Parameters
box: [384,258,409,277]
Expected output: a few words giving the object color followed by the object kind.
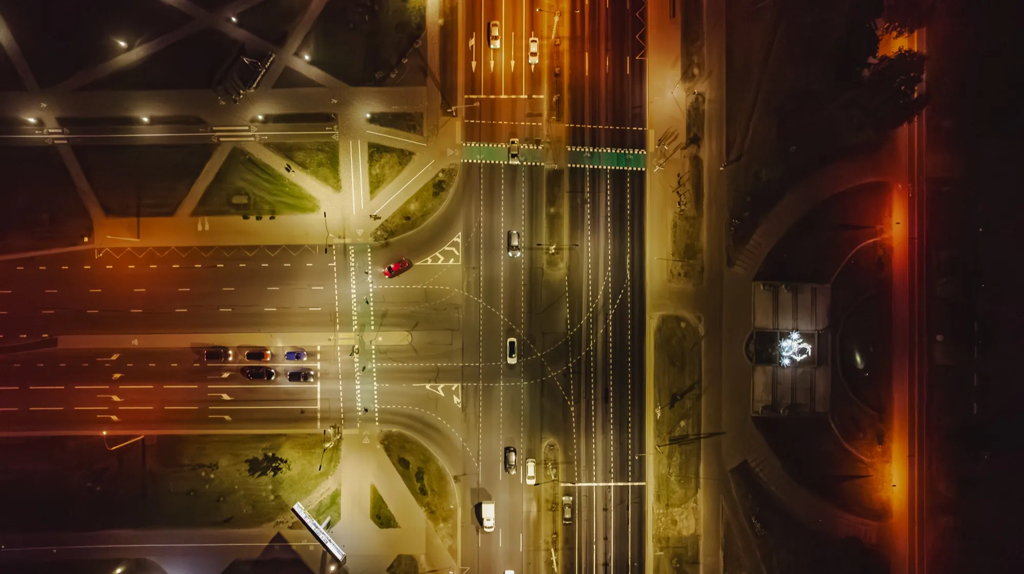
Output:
red car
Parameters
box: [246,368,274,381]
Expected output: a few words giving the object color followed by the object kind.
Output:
black vehicle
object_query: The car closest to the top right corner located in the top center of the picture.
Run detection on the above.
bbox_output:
[527,35,540,63]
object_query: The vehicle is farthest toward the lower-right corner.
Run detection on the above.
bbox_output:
[561,496,574,525]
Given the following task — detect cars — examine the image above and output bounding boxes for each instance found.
[508,137,520,165]
[203,348,232,361]
[384,258,409,277]
[487,19,500,47]
[524,459,537,487]
[284,350,306,361]
[561,496,574,525]
[246,368,274,381]
[507,230,520,258]
[504,447,517,475]
[527,35,540,63]
[287,370,313,383]
[506,337,518,365]
[244,349,270,362]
